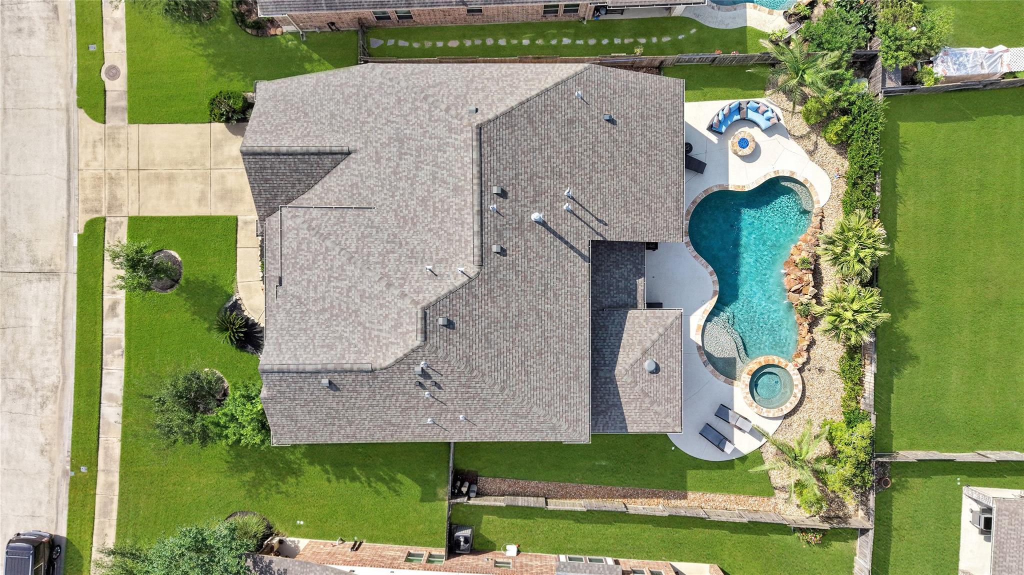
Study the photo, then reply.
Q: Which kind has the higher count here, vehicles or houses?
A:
houses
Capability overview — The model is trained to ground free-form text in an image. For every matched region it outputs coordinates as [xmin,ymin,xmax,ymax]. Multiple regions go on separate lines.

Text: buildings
[240,60,687,445]
[254,0,709,41]
[244,536,729,575]
[967,487,1024,575]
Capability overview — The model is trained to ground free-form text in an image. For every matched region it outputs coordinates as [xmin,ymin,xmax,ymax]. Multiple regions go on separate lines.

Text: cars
[7,526,62,575]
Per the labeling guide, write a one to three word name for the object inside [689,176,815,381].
swimming pool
